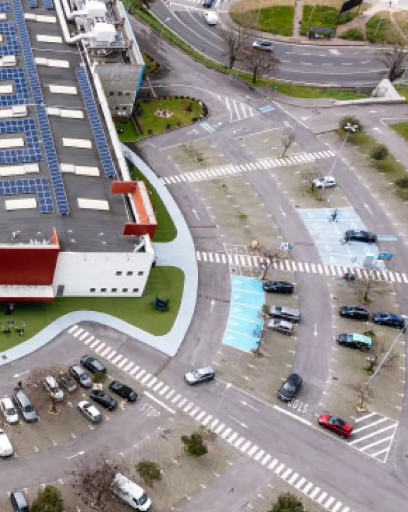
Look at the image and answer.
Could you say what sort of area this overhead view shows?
parking lot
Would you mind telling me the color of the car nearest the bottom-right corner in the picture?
red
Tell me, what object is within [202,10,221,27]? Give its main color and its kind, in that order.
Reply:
white vehicle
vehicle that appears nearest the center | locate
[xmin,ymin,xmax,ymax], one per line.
[262,280,295,296]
